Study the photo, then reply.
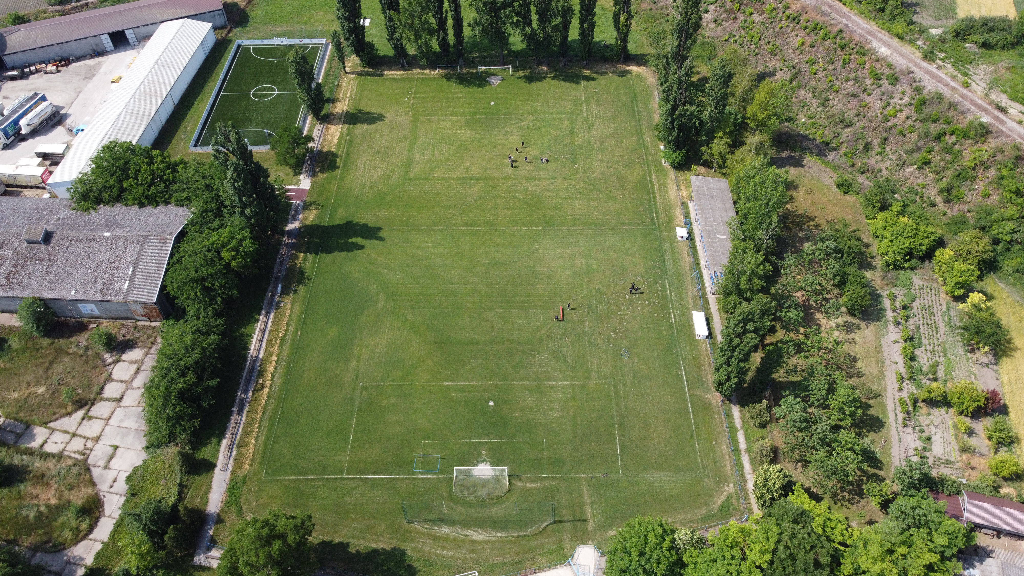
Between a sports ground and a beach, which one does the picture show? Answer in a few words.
sports ground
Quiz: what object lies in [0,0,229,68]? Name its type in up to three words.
barn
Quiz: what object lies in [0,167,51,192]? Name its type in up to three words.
trailer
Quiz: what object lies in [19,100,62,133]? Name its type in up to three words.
trailer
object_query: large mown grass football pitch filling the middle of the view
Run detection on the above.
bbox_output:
[244,70,724,491]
